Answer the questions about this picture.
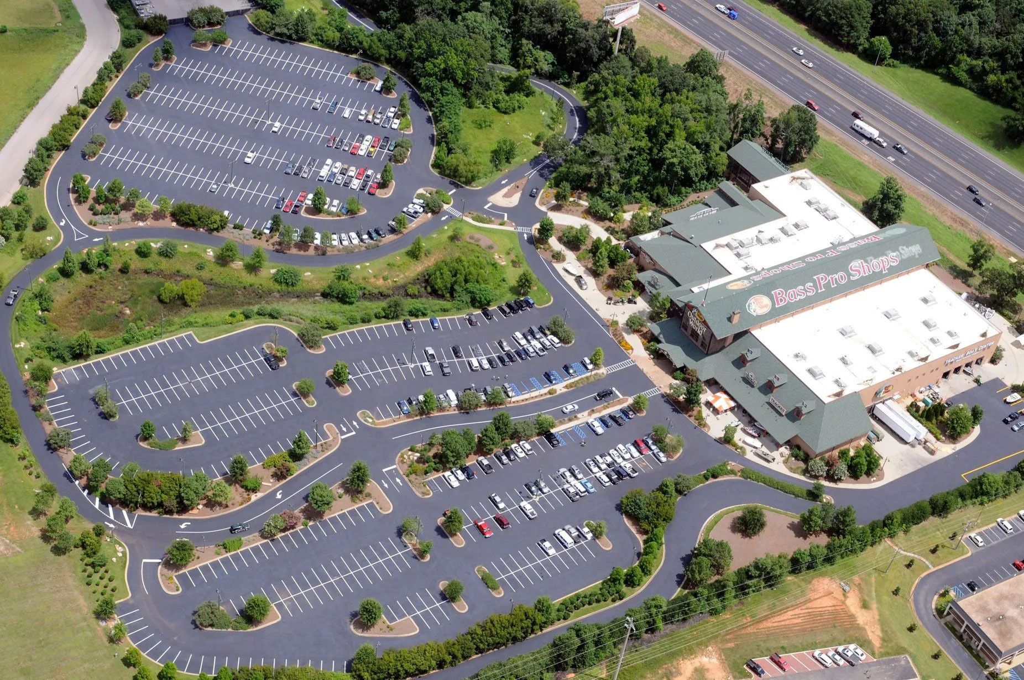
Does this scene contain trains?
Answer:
No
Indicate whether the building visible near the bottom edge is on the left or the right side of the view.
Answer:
right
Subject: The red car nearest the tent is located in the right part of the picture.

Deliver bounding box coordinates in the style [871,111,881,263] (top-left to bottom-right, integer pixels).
[634,438,649,455]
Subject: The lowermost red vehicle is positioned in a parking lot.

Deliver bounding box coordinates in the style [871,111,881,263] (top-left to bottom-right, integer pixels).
[769,653,792,672]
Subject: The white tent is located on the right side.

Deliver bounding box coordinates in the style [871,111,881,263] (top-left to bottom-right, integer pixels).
[704,391,738,414]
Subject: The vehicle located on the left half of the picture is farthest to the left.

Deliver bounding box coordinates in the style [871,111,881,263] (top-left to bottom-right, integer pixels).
[7,288,19,305]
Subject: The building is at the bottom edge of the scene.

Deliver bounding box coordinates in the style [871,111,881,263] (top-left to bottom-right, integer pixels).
[945,571,1024,671]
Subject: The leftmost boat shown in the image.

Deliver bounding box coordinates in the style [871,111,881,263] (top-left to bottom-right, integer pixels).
[559,260,578,275]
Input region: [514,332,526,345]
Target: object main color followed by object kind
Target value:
white vehicle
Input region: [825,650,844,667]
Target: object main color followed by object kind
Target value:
white car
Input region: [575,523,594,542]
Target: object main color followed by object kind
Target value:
white vehicle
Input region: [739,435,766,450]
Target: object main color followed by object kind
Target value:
white boat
